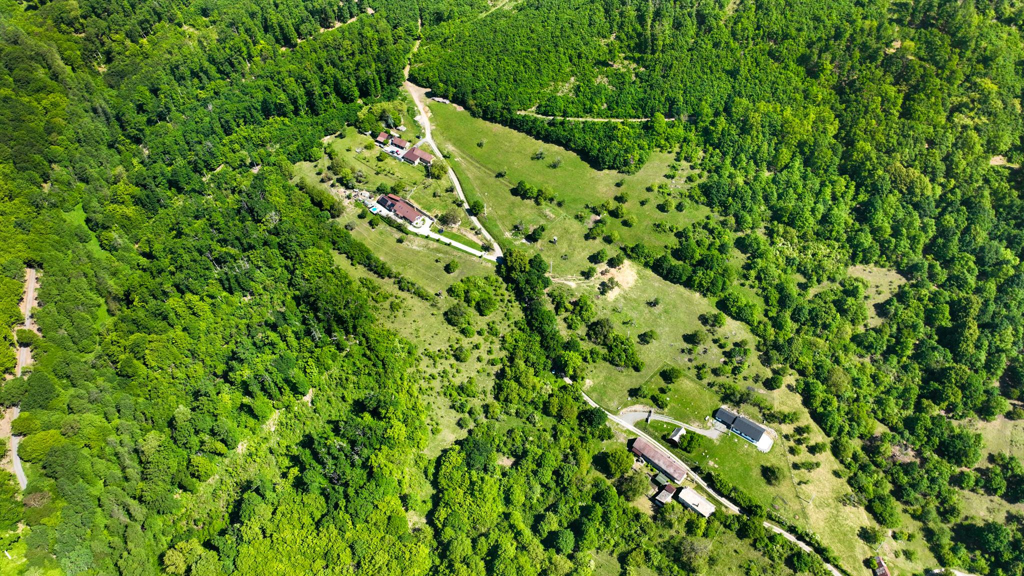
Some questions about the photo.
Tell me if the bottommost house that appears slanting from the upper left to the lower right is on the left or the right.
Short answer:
right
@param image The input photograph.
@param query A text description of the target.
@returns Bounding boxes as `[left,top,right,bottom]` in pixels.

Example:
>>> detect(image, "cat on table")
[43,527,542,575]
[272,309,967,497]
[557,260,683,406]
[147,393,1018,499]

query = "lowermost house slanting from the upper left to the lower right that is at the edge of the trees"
[679,487,714,520]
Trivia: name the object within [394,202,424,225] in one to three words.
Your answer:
building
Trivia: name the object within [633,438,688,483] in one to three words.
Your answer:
house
